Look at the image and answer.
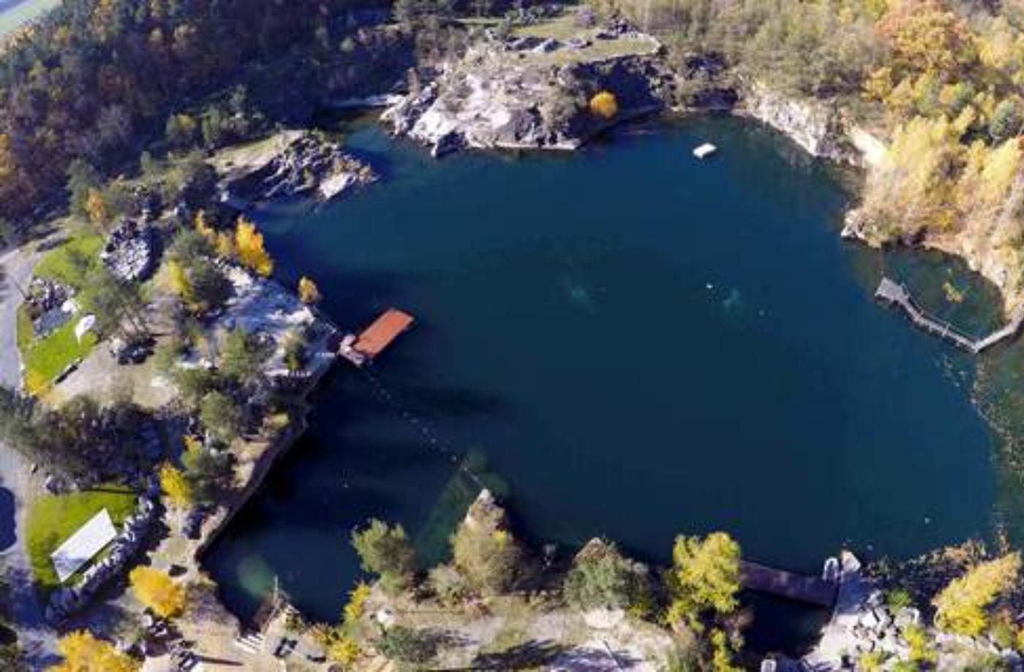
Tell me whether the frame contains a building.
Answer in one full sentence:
No, the scene contains no building.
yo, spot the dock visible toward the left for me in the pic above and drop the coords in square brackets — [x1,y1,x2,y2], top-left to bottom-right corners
[340,333,365,369]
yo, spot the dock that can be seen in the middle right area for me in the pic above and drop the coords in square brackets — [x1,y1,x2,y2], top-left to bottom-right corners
[874,277,1024,359]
